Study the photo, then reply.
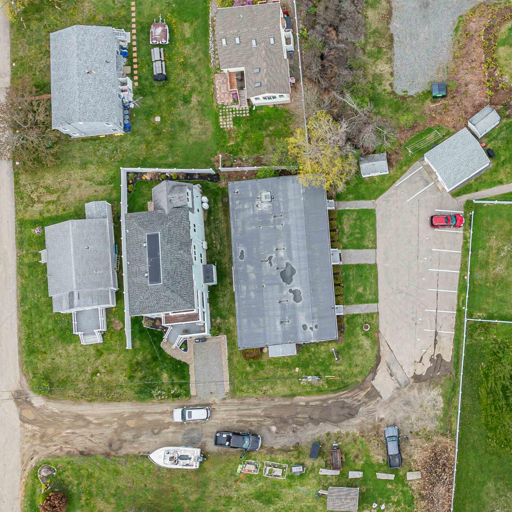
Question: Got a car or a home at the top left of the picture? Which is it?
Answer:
home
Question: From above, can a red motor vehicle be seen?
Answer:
Yes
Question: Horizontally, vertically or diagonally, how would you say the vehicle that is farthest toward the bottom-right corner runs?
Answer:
vertically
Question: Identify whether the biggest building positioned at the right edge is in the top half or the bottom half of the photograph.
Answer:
top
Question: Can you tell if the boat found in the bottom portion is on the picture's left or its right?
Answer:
left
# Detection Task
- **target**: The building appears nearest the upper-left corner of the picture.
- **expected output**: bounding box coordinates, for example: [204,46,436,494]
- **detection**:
[51,25,137,133]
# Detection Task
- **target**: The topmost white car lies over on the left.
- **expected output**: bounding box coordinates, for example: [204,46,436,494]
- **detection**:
[173,405,213,423]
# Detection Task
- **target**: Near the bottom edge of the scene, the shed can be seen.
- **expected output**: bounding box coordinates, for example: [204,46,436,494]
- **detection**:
[318,486,359,512]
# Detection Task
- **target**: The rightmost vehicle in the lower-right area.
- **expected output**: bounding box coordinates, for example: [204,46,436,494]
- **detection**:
[383,425,404,469]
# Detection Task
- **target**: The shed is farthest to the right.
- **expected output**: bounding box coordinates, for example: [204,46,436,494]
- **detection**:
[468,105,500,138]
